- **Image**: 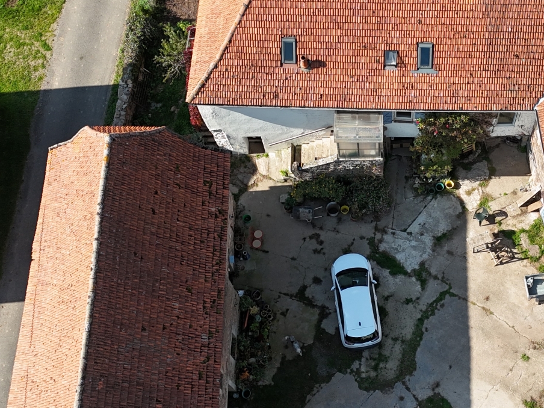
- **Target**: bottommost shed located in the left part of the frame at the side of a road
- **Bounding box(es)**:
[6,117,251,408]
